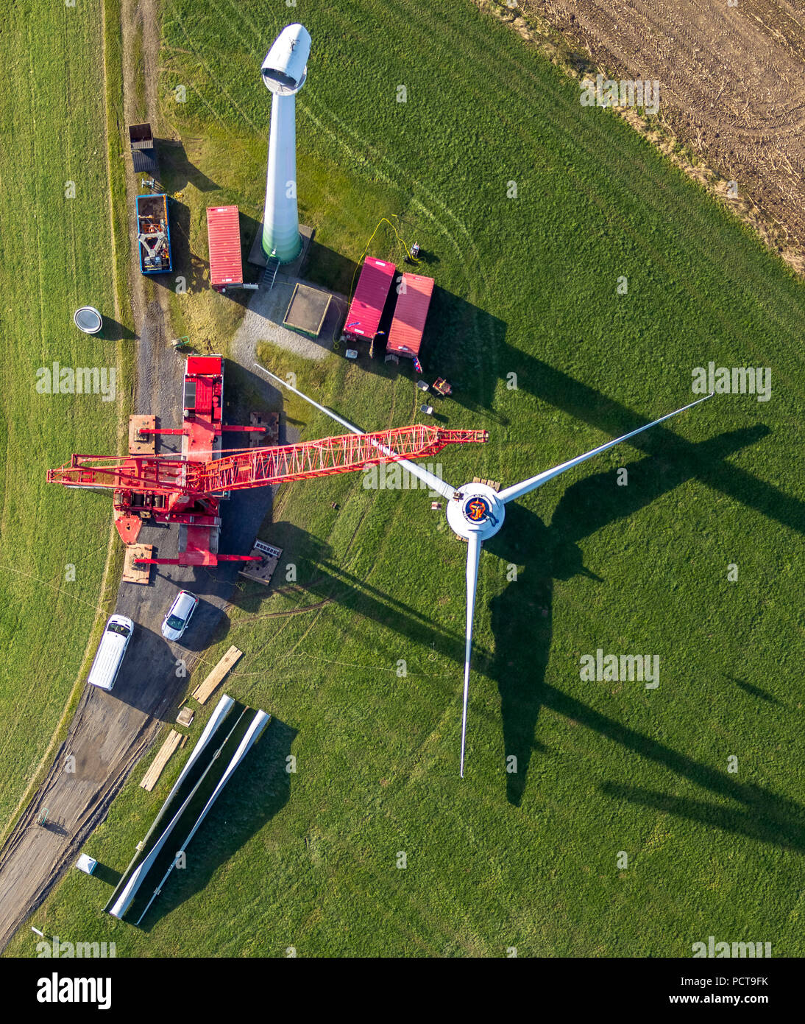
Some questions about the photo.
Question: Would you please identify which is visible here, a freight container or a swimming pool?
freight container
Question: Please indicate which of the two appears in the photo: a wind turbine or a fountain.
wind turbine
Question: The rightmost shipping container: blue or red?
red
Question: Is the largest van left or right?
left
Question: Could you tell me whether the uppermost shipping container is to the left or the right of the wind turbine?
to the left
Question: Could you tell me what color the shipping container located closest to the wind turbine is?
red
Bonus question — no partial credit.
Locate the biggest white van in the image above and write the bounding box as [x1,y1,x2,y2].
[89,615,133,691]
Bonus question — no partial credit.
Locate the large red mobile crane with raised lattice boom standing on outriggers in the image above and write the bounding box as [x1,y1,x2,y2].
[47,349,491,569]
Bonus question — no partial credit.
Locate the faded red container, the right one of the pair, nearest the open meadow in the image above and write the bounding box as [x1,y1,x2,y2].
[386,272,435,361]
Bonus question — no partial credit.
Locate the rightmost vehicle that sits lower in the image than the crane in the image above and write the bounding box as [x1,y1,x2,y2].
[162,587,200,641]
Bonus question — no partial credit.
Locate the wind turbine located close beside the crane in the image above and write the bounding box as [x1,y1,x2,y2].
[258,21,311,267]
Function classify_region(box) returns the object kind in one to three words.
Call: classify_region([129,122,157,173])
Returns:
shipping container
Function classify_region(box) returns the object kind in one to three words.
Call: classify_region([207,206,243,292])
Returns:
shipping container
